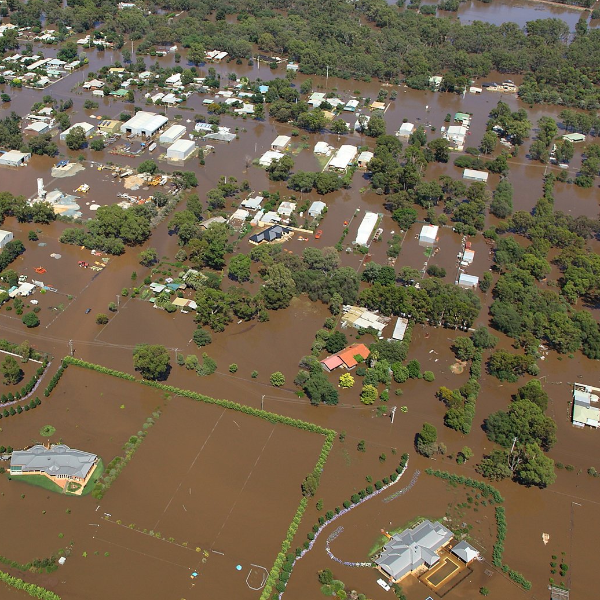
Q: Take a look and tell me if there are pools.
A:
Yes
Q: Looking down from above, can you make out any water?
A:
Yes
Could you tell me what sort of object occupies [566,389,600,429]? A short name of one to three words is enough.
house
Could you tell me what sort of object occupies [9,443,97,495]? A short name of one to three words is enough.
house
